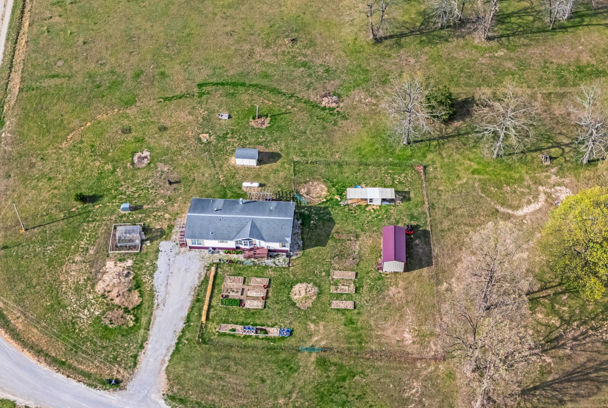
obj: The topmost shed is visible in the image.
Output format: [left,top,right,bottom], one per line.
[234,146,259,166]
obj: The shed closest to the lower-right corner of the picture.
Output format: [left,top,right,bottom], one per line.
[375,223,405,271]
